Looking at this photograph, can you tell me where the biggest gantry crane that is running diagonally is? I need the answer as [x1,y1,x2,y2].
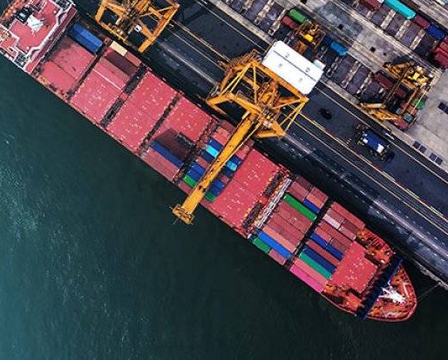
[169,21,329,227]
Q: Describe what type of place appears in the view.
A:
port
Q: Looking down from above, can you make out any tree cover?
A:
No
